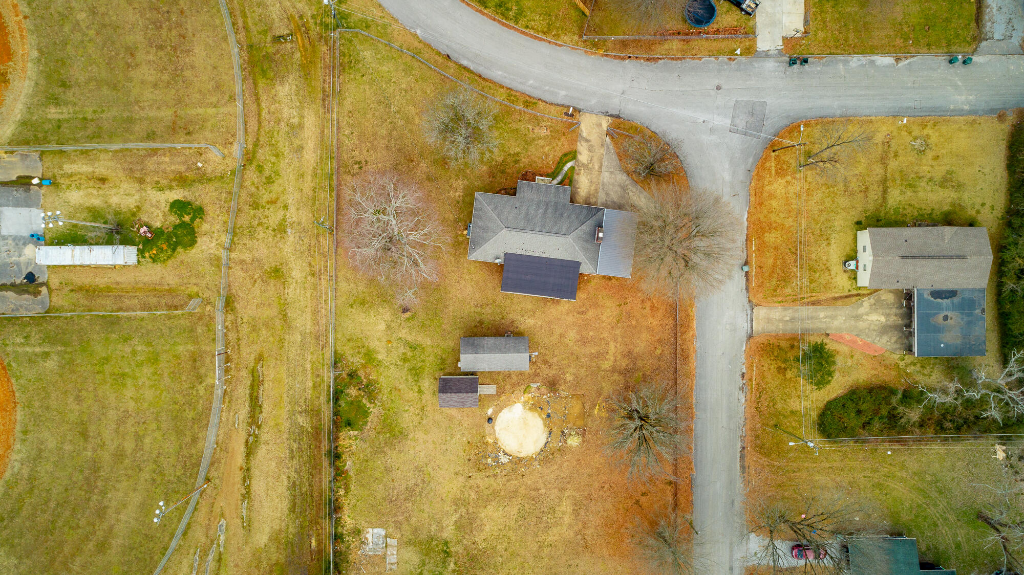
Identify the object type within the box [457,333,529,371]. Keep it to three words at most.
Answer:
shed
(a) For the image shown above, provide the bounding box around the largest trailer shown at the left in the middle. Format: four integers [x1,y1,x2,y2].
[35,245,146,265]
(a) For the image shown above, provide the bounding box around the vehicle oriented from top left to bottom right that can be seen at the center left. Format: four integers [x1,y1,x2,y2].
[132,221,154,241]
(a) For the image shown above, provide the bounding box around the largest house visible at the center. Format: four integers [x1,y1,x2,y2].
[467,175,638,302]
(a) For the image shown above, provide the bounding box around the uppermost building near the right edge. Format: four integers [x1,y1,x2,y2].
[857,223,993,289]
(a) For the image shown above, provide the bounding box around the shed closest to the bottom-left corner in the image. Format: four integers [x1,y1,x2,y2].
[439,375,479,408]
